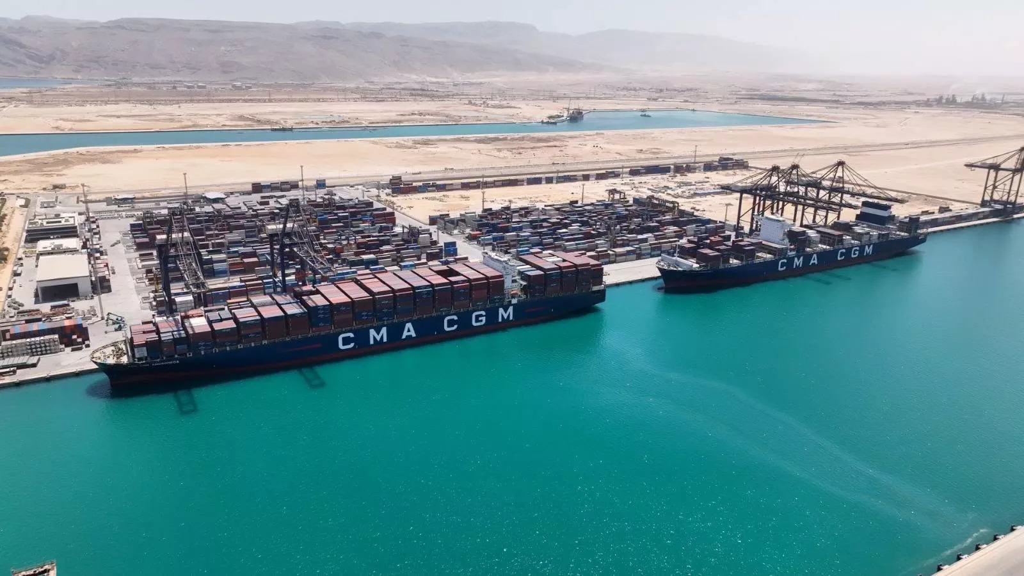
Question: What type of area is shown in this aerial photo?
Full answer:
This image shows a port.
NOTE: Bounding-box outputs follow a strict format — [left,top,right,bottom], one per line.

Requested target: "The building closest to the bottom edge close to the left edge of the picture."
[32,248,91,296]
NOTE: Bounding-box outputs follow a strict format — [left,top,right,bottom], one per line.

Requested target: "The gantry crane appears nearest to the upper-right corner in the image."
[962,145,1024,216]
